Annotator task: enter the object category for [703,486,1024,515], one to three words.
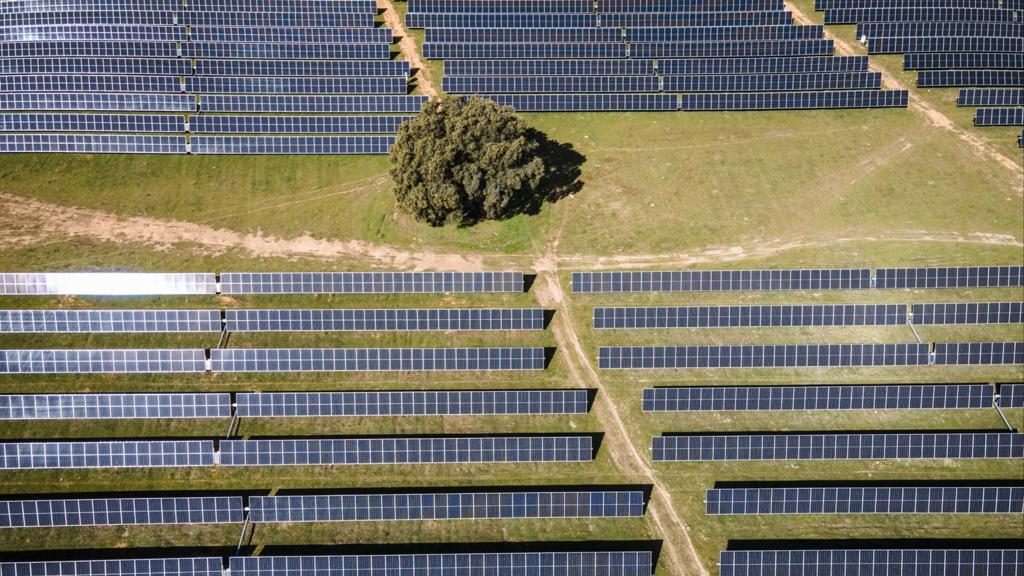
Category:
solar array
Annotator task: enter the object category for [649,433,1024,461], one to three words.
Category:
solar array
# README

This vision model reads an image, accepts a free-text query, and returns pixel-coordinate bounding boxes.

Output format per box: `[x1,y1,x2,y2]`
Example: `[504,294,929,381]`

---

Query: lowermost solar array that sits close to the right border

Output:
[717,549,1024,576]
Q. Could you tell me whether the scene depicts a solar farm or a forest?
solar farm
